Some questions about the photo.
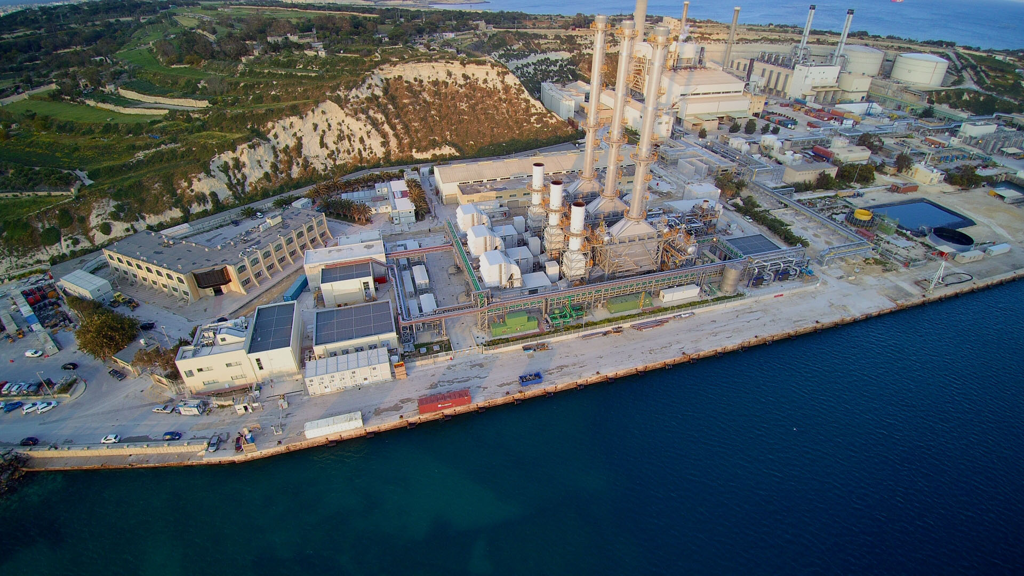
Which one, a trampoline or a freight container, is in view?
freight container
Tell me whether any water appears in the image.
Yes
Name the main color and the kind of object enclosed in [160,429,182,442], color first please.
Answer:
blue vehicle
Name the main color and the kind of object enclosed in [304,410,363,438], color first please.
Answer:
white shipping container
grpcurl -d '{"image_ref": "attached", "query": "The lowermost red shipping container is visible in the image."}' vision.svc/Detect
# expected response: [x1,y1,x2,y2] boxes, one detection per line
[417,389,470,414]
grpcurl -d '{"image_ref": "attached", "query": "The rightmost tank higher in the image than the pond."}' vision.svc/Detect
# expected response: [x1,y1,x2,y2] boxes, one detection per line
[889,54,956,84]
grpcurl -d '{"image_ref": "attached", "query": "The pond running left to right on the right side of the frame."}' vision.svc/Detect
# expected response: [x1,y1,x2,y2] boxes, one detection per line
[873,196,977,236]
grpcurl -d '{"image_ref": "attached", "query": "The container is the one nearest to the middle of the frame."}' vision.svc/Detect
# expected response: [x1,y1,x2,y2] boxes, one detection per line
[488,306,537,336]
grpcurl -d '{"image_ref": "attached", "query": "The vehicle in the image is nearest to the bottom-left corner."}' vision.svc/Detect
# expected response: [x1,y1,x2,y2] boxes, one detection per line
[15,435,42,448]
